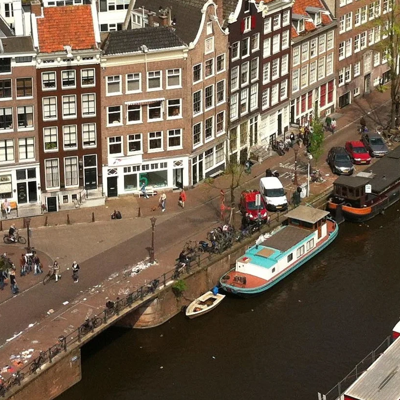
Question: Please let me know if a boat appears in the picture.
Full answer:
Yes, a boat is visible in the scene.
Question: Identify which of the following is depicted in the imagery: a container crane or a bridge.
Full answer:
I can see a bridge in this picture.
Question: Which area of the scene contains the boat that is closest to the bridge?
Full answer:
You can find the boat that is closest to the bridge in the bottom area of the picture.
